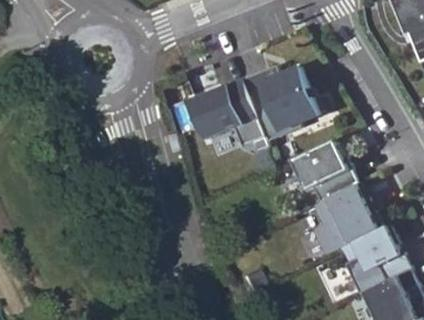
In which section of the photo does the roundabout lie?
top left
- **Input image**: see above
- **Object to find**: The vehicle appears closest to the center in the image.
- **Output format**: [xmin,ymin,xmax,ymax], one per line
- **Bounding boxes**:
[227,58,242,81]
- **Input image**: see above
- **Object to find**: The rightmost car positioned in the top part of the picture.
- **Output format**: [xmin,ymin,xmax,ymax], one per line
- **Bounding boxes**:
[373,110,388,132]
